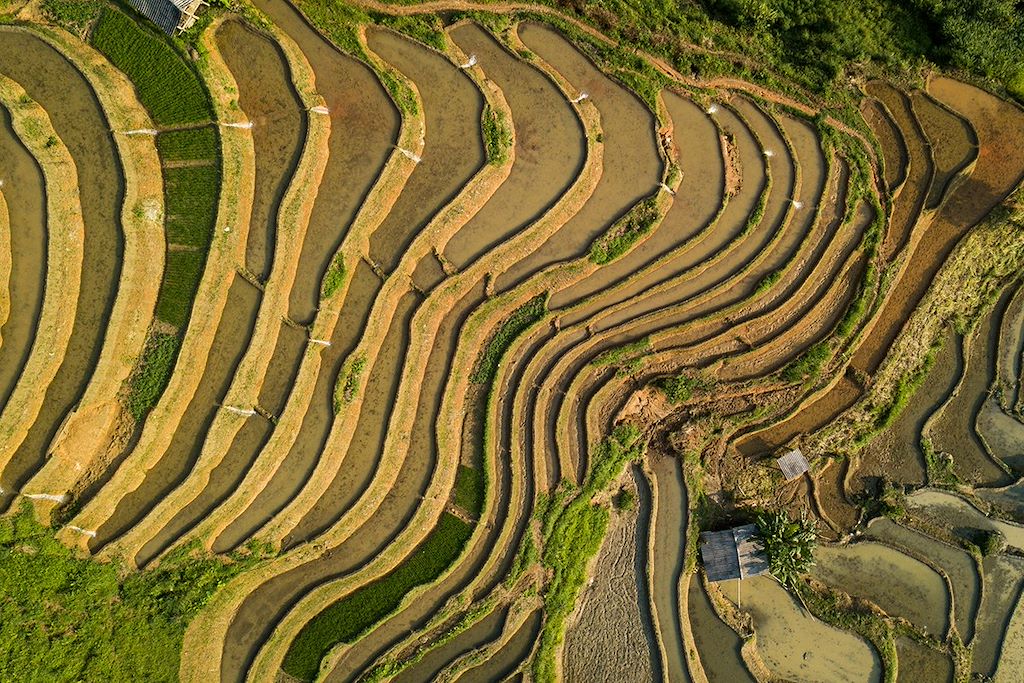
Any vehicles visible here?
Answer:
No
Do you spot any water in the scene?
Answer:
Yes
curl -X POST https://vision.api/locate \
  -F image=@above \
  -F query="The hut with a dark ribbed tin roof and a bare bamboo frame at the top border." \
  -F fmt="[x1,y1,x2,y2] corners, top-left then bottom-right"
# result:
[130,0,219,44]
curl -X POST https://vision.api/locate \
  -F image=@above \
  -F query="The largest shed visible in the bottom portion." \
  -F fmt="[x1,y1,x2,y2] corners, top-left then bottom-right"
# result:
[698,524,768,582]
